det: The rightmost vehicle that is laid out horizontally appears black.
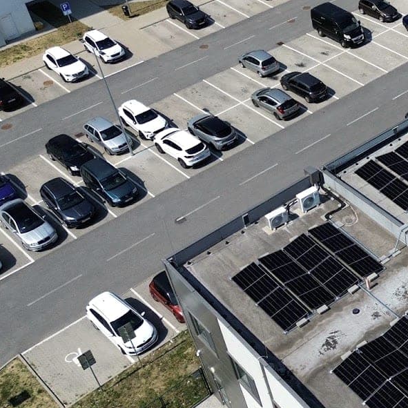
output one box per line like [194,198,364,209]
[355,0,400,22]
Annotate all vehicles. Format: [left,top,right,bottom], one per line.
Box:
[165,0,209,28]
[41,44,90,82]
[146,269,189,328]
[249,87,302,121]
[83,287,161,357]
[80,26,127,62]
[307,0,365,44]
[235,47,284,80]
[154,127,212,168]
[185,112,242,151]
[280,71,330,104]
[0,198,58,251]
[0,79,24,112]
[35,173,95,226]
[78,112,135,157]
[78,155,139,205]
[113,96,169,139]
[43,128,96,175]
[0,173,21,207]
[355,0,400,22]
